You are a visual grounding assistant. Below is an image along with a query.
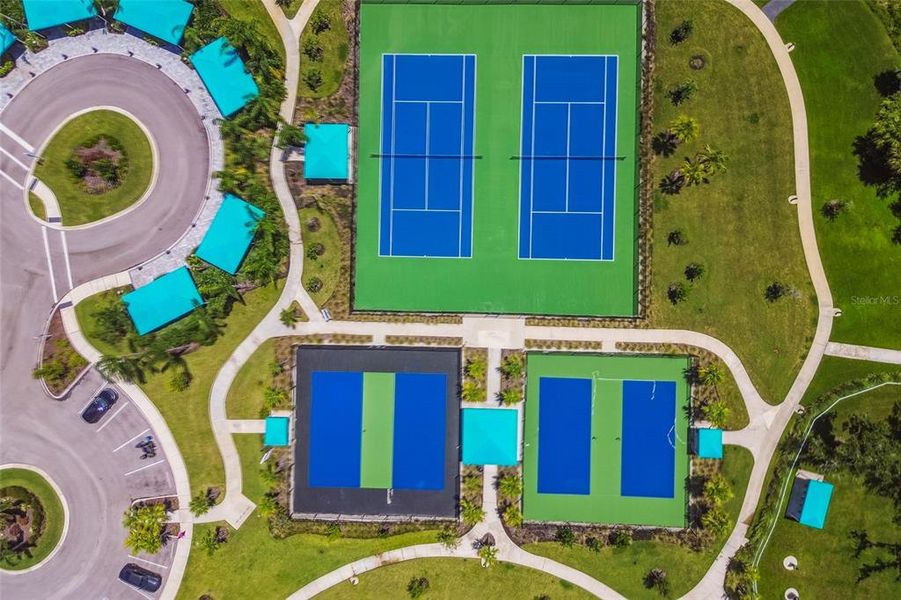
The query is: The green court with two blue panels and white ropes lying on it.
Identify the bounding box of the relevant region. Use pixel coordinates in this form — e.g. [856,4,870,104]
[519,349,692,532]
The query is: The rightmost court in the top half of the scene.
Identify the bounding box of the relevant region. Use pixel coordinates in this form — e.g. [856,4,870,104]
[495,0,641,318]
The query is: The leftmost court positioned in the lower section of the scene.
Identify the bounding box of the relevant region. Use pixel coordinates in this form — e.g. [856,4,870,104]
[289,343,464,521]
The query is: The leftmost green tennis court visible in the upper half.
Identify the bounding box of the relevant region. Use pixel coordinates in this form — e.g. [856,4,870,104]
[355,0,500,314]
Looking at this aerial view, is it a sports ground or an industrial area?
sports ground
